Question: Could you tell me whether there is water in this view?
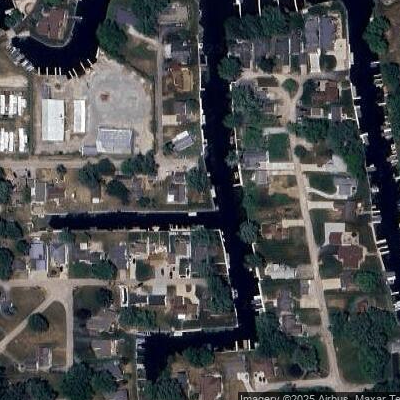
Yes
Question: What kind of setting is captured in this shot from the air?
residential area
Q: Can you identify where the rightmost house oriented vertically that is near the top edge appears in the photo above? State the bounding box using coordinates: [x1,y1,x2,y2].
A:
[321,17,336,54]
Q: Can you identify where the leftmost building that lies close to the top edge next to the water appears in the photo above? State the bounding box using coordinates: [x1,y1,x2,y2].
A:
[37,7,64,39]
